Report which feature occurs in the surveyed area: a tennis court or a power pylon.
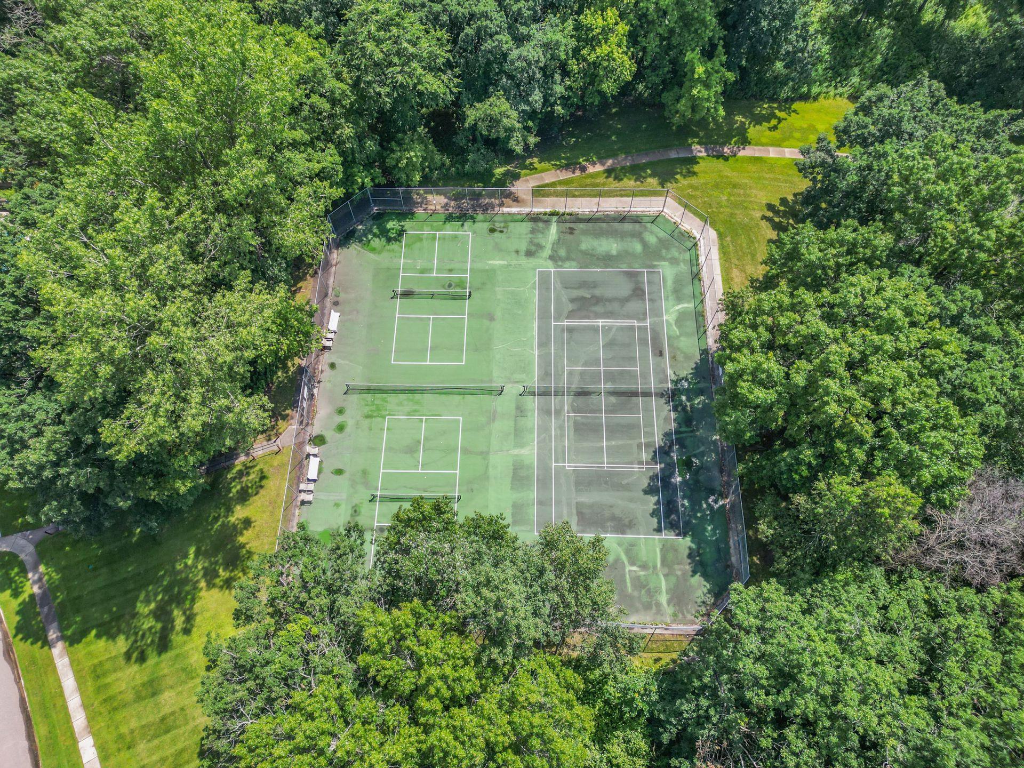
tennis court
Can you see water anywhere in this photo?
No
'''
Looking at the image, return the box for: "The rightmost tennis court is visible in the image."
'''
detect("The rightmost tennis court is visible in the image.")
[535,269,682,537]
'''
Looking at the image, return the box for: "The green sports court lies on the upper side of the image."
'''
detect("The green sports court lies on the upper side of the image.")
[392,233,471,364]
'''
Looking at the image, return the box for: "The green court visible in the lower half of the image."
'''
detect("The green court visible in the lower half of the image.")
[369,417,461,588]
